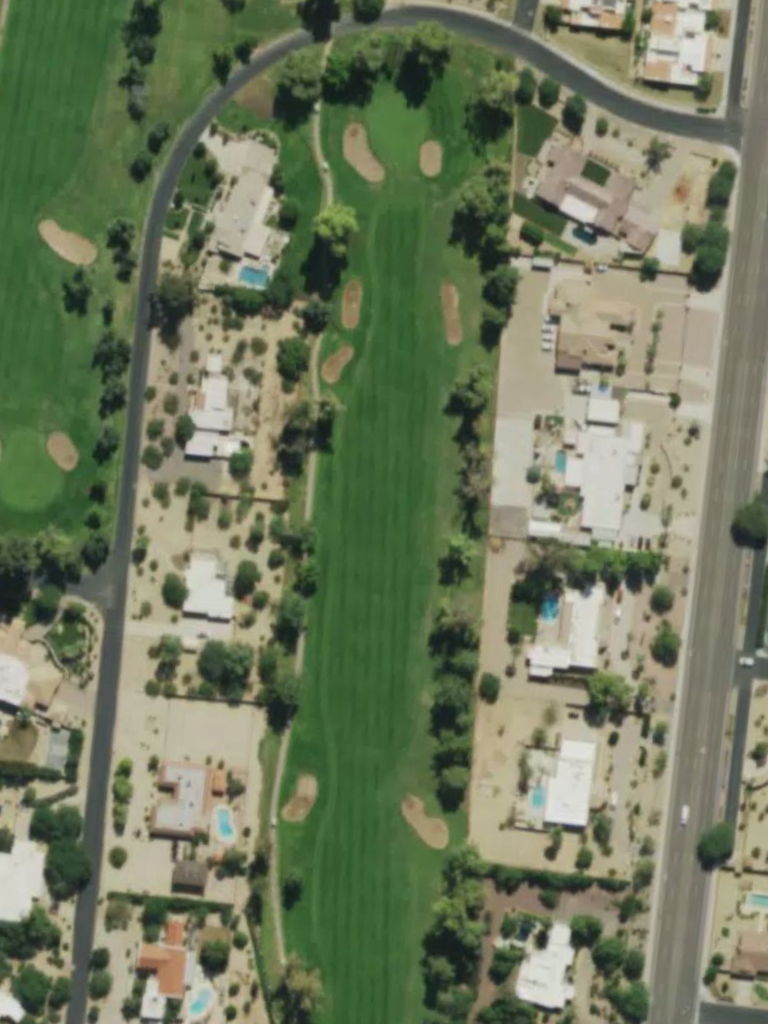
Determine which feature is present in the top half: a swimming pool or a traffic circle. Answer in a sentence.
Looking in the top half, you will find a swimming pool.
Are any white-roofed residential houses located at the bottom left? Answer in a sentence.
Yes, there is a white-roofed residential house at the bottom left.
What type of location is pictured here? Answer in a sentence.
The area seen from above is a golf course.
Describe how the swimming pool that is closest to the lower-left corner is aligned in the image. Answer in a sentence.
In this picture, the swimming pool that is closest to the lower-left corner lies diagonally.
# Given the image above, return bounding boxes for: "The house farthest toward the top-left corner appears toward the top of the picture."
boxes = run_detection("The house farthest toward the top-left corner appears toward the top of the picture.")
[208,172,274,258]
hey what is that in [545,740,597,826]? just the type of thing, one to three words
house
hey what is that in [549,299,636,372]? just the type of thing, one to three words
house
